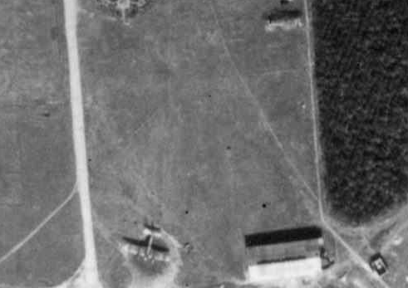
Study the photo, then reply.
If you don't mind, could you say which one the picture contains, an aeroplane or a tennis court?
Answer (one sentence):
Looking from above, you can make out an aeroplane.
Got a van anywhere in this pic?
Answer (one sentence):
No, this view has no van in it.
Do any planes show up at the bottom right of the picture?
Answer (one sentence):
No, there's no plane to be seen at the bottom right of the picture.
